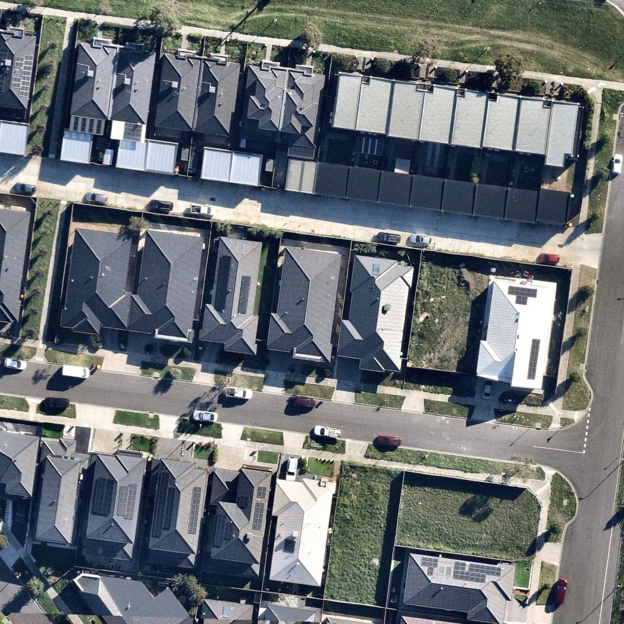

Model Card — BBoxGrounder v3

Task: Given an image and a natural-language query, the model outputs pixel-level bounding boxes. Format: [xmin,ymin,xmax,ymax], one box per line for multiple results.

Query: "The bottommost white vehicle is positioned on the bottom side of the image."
[285,457,297,480]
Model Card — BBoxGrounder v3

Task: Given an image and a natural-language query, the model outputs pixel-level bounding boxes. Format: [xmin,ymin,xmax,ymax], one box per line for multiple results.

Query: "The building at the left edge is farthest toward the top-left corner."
[0,28,37,112]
